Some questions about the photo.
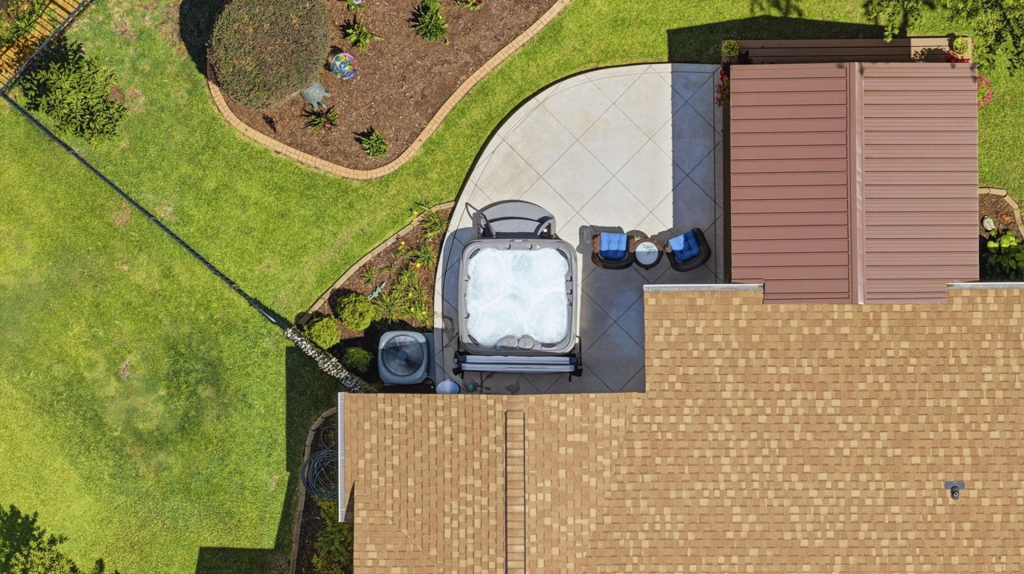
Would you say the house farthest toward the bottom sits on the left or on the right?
right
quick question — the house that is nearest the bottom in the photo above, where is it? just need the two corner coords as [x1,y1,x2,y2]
[339,283,1024,574]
